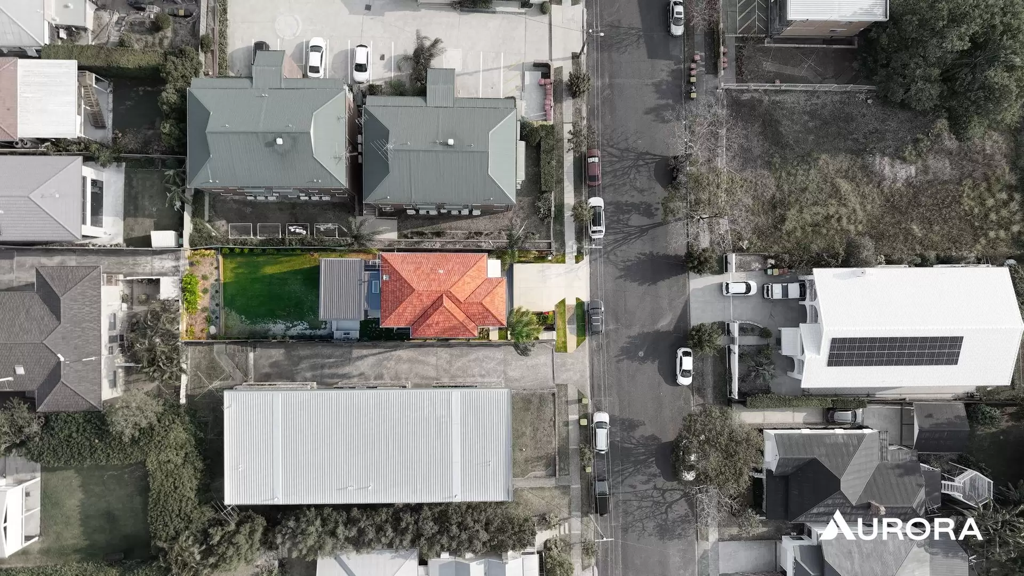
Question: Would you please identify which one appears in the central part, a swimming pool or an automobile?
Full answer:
Looking in the central part, you will find an automobile.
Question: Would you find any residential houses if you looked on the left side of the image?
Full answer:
Yes, on the left side of the image there is a residential house.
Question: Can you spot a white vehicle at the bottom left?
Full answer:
No, the scene shows no white vehicle at the bottom left.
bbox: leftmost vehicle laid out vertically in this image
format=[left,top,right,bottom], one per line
[306,38,327,79]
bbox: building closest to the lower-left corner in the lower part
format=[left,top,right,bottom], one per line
[0,474,50,557]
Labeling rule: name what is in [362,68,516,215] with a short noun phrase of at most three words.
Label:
building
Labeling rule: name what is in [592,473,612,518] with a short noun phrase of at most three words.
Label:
vehicle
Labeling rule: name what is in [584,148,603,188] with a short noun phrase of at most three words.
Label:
car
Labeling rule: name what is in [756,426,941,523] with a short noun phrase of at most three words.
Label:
house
